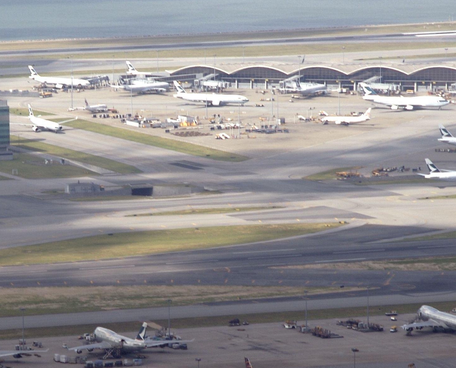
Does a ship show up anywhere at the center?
No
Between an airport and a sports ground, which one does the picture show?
airport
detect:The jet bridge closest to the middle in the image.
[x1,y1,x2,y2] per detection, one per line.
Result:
[192,75,233,94]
